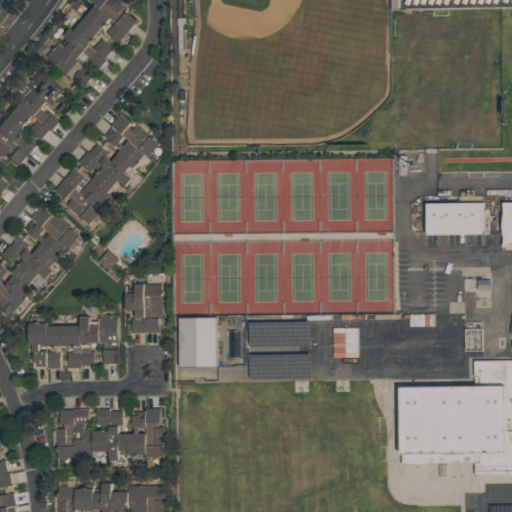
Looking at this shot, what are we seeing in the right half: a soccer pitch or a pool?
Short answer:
soccer pitch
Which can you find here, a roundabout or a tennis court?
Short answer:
tennis court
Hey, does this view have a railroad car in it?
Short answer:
No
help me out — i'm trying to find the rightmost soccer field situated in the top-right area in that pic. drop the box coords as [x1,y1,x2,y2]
[392,9,504,150]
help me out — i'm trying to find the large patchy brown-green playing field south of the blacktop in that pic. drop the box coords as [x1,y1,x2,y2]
[180,385,465,512]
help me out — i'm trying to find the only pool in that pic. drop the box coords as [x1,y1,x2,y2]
[108,218,150,268]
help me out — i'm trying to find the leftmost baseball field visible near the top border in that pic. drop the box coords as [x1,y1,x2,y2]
[188,0,391,146]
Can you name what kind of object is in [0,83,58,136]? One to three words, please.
house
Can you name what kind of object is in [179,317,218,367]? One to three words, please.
shed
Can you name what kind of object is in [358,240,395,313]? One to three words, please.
tennis court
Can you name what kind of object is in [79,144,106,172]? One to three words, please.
building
